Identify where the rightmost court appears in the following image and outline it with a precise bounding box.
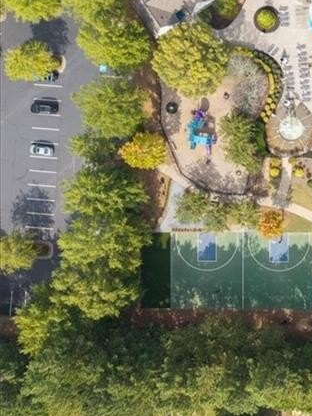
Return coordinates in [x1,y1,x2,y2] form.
[170,232,312,309]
